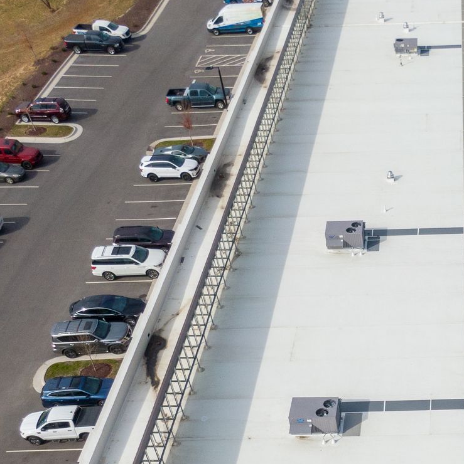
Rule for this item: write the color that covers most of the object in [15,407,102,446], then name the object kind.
white truck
